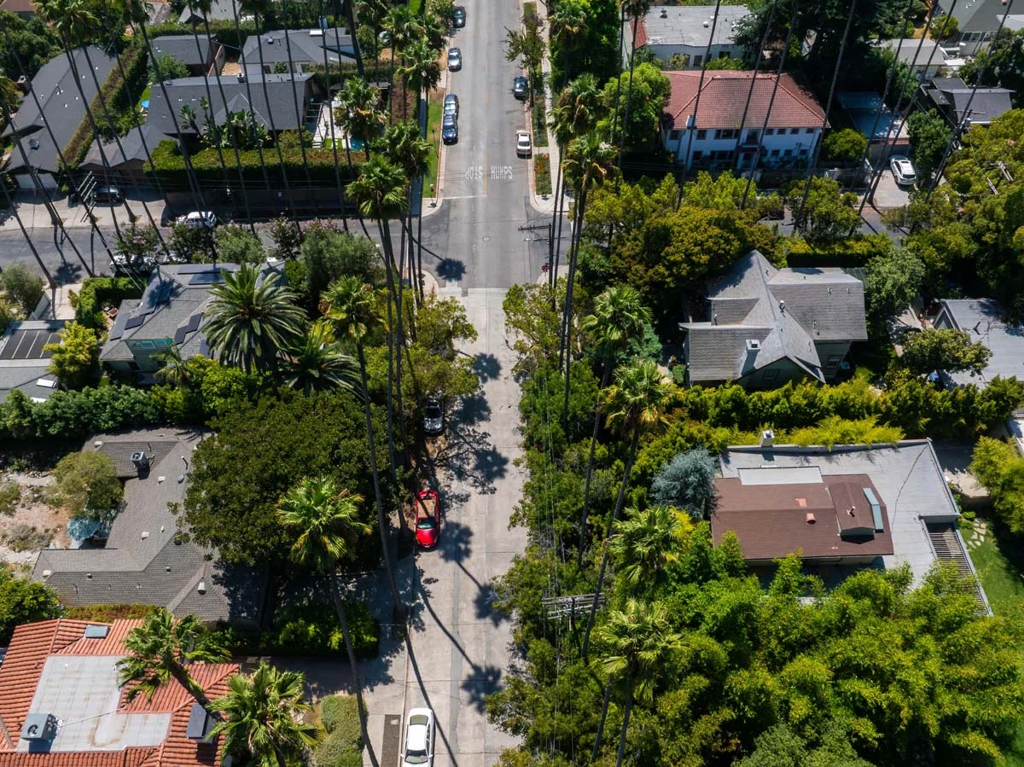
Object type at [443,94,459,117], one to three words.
car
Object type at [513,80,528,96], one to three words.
car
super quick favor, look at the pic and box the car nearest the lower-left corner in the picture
[398,705,438,767]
